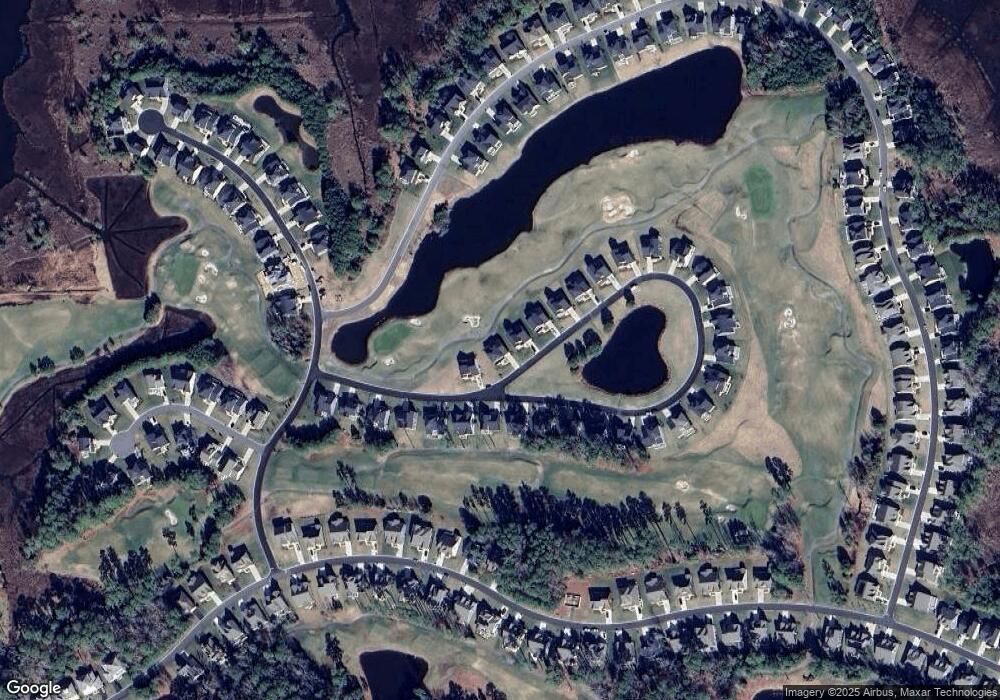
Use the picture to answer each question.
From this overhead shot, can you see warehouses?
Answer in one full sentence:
No, no warehouse can be seen from above.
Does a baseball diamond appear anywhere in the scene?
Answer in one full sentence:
No, there's no baseball diamond here.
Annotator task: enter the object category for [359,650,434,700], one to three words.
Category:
pond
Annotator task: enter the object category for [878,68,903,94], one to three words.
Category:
house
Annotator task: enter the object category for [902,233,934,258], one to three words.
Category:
house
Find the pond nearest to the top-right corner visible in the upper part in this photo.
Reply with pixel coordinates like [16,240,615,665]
[951,239,996,306]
